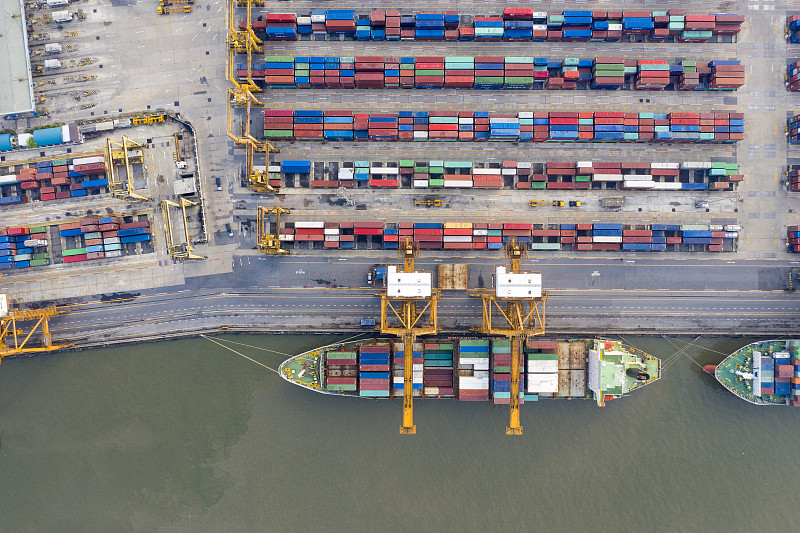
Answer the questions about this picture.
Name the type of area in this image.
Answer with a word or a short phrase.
port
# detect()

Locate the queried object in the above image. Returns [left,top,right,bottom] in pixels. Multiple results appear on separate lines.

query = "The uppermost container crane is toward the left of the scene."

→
[227,0,265,44]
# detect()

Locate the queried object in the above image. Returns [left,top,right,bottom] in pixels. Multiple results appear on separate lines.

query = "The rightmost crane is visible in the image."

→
[469,234,545,436]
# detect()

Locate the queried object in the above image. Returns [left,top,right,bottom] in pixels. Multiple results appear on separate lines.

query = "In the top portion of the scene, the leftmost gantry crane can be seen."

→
[102,134,156,202]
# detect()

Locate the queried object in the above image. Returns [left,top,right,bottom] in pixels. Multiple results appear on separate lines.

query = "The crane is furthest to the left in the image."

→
[0,262,75,369]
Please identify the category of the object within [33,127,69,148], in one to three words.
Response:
shed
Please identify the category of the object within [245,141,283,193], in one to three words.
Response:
container crane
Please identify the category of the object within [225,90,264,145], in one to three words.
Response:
container crane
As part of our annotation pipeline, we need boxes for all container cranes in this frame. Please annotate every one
[227,0,265,44]
[0,262,75,369]
[256,206,293,253]
[245,141,283,193]
[102,134,156,202]
[160,195,209,258]
[227,33,265,92]
[372,233,443,436]
[225,90,264,145]
[469,234,545,436]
